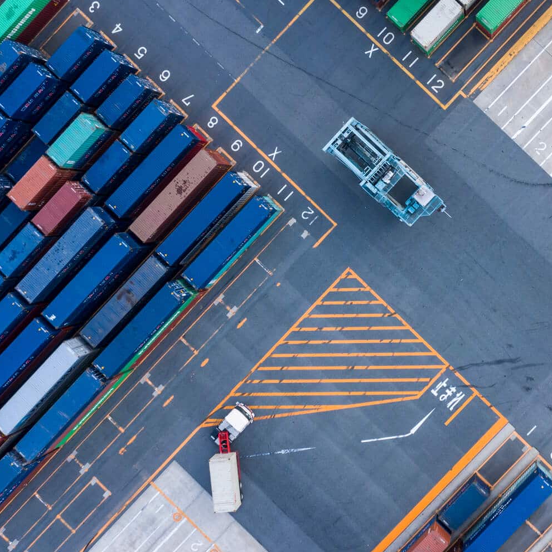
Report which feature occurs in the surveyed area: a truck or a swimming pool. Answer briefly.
truck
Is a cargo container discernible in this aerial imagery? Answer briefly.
Yes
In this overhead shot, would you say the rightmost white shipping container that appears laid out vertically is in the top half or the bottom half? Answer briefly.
bottom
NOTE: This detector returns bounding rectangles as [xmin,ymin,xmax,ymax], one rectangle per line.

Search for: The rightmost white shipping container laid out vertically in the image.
[209,453,241,514]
